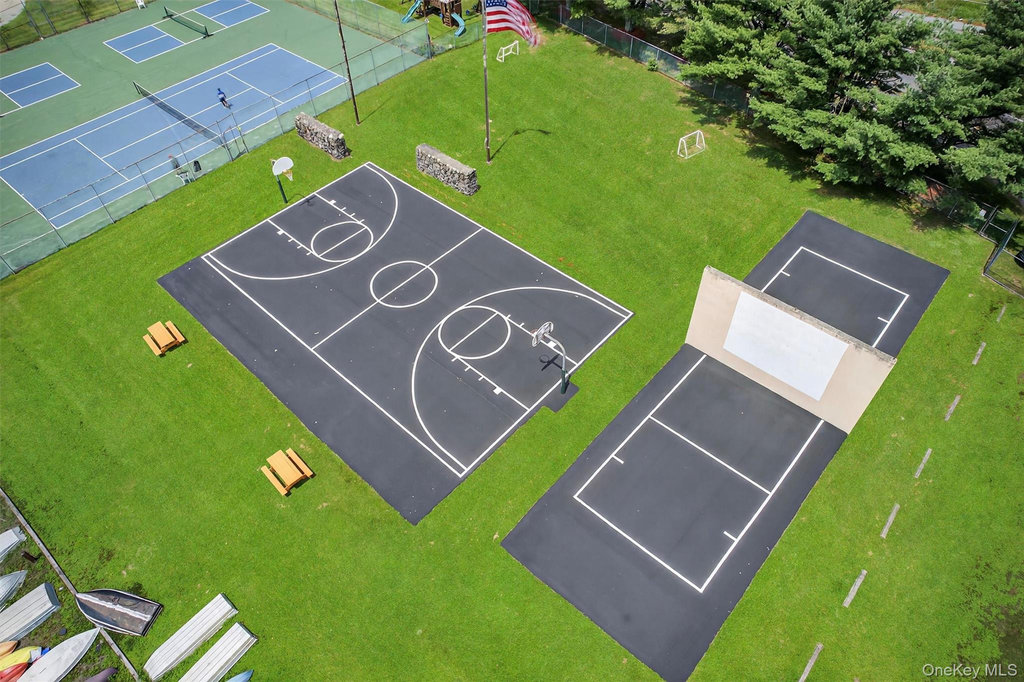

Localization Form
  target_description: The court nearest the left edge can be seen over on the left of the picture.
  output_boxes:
[0,62,79,117]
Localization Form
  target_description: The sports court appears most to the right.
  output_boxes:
[502,211,950,682]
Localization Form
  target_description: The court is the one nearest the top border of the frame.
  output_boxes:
[104,0,269,62]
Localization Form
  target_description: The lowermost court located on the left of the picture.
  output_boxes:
[157,160,635,524]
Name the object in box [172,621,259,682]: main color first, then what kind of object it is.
white boat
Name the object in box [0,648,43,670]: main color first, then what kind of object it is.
yellow boat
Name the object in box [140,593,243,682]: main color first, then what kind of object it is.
white boat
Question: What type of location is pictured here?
sports ground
